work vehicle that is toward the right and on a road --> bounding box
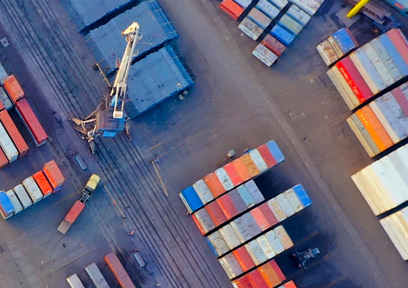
[293,241,323,272]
